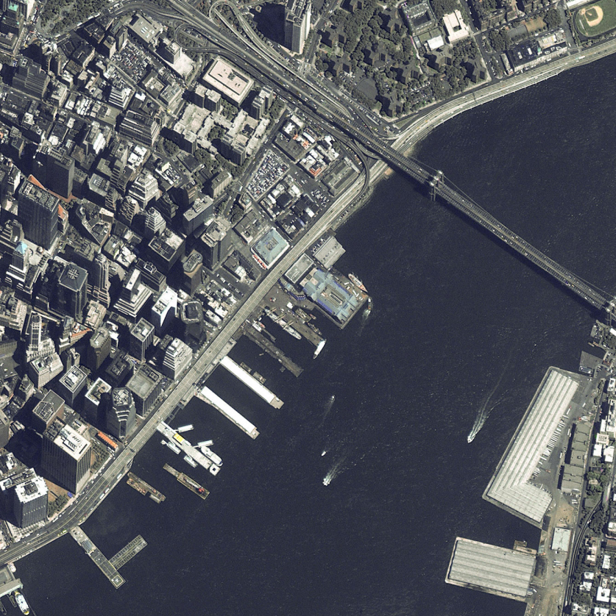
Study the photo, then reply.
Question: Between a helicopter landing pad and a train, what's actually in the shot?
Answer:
helicopter landing pad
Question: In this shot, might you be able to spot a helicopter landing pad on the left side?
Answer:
Yes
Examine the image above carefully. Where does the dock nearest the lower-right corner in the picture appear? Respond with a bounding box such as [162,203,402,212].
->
[445,537,539,603]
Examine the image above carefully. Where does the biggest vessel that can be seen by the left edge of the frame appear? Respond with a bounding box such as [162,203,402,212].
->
[15,592,30,614]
